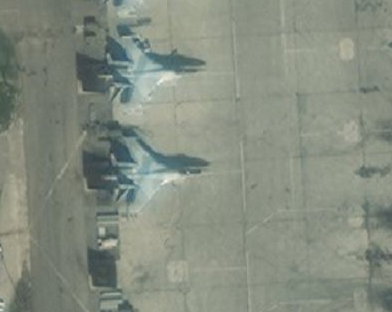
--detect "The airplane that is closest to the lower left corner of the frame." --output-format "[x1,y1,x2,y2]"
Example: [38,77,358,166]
[103,138,211,215]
